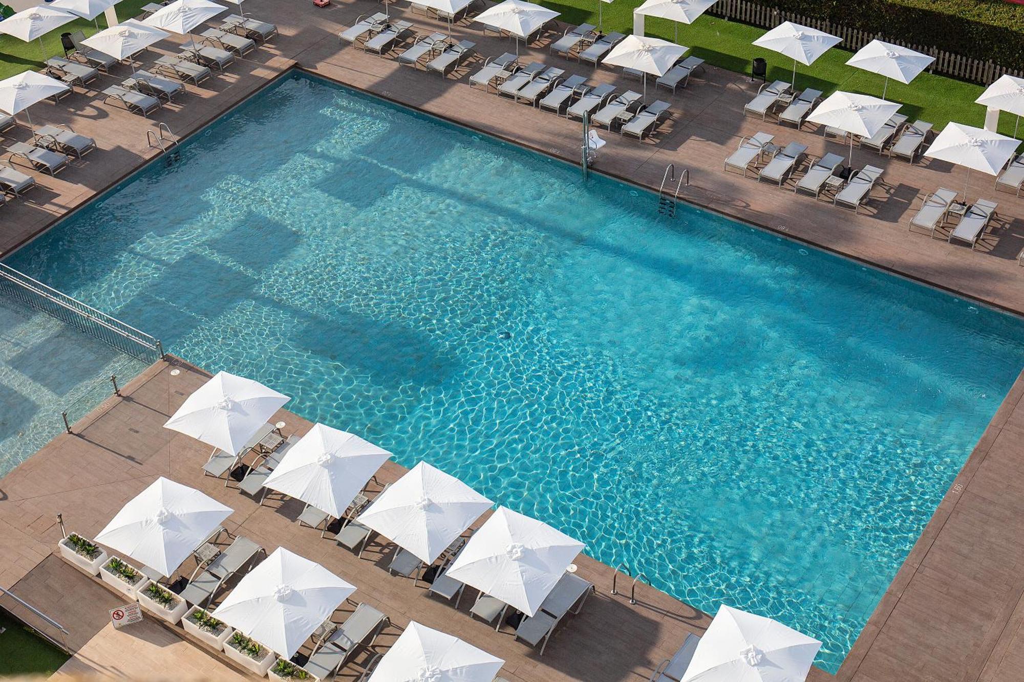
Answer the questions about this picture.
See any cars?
No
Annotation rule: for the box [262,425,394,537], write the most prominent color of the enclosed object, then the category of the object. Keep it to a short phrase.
white umbrella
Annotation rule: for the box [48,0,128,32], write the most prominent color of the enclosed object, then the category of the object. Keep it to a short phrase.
white umbrella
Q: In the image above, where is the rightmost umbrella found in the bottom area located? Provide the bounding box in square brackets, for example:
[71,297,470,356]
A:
[680,605,824,682]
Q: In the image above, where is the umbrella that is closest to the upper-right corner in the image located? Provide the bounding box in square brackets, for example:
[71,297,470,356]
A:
[970,74,1024,136]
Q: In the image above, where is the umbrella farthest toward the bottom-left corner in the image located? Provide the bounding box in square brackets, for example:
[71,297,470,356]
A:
[94,478,235,595]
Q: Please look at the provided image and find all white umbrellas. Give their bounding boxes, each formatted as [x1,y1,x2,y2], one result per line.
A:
[680,605,824,682]
[366,622,505,682]
[602,33,690,110]
[163,373,292,480]
[94,478,235,595]
[137,0,225,64]
[970,74,1024,136]
[0,1,78,75]
[210,549,358,666]
[751,20,842,99]
[923,121,1020,206]
[48,0,128,32]
[807,89,900,173]
[0,68,68,145]
[262,425,394,537]
[79,18,170,92]
[354,464,493,583]
[472,0,560,72]
[844,39,936,102]
[444,510,585,632]
[637,0,720,43]
[415,0,472,48]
